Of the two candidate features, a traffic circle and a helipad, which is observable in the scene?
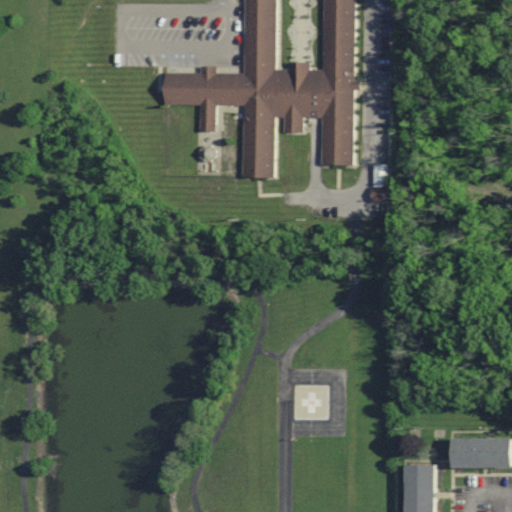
helipad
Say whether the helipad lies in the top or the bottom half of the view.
bottom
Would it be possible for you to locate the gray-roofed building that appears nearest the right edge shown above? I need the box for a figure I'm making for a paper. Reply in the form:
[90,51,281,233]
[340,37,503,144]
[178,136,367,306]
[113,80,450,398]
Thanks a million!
[450,438,512,468]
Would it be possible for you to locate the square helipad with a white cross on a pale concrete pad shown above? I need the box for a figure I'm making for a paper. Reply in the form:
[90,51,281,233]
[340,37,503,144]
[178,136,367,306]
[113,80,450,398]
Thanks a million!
[291,369,346,436]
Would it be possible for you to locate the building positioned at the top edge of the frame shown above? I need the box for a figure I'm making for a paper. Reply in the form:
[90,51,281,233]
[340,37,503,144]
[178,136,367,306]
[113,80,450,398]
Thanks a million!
[161,0,360,178]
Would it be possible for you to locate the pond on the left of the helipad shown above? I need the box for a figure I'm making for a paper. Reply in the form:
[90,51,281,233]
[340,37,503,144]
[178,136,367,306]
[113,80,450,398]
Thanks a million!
[49,295,228,512]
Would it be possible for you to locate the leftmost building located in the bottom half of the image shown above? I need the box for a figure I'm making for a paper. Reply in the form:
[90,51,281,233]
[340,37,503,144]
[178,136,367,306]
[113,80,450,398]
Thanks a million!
[404,464,438,512]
